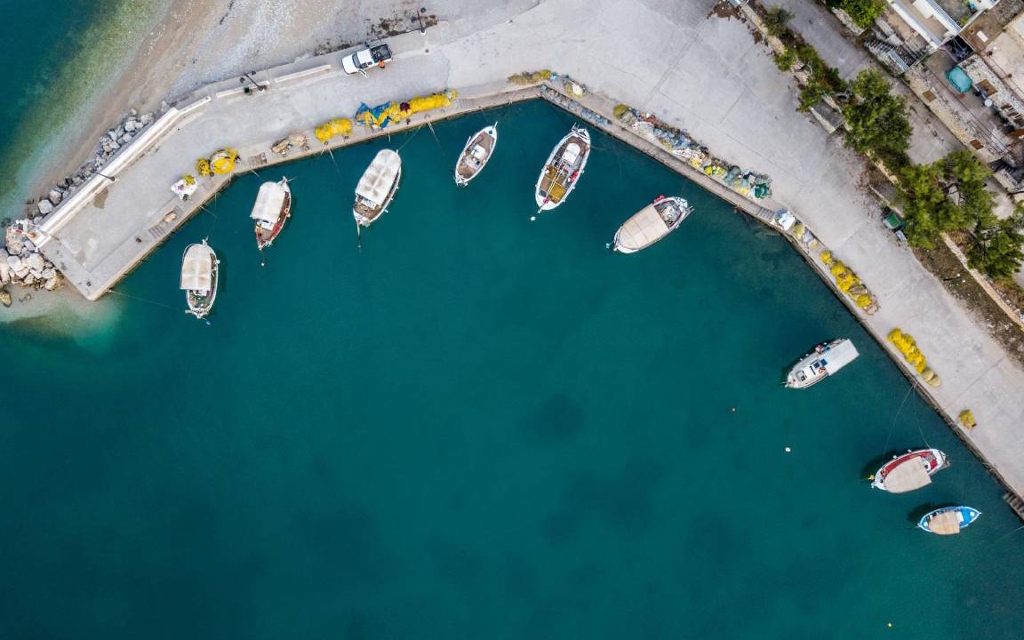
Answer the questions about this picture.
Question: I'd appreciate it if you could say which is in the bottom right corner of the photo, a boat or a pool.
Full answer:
Visible in the bottom right corner of the photo is a boat.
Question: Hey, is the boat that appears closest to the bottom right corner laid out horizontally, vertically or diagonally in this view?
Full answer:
I'd say the boat that appears closest to the bottom right corner is aligned horizontally in the picture.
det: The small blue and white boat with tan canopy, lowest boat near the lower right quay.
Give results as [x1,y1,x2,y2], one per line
[907,504,983,535]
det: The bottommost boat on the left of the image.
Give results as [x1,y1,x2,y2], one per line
[181,240,223,318]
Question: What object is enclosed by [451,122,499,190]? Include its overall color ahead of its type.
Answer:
white boat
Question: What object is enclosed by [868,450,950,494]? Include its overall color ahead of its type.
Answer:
white boat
